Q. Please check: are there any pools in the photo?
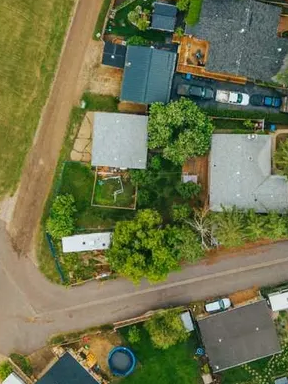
Yes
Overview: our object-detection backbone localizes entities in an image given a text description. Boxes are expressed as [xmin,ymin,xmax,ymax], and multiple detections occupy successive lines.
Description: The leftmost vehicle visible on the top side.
[177,83,213,100]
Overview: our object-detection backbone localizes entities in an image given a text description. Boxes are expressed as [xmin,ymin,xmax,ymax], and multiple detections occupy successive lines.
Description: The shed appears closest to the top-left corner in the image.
[99,43,126,68]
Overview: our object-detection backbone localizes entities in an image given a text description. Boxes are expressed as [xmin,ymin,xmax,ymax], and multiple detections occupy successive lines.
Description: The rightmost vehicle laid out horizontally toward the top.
[250,93,282,109]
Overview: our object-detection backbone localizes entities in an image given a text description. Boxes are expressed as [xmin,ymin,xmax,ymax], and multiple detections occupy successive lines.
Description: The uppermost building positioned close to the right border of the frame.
[185,0,288,83]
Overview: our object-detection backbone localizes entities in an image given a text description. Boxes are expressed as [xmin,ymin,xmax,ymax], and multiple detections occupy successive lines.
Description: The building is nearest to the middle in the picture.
[90,112,148,169]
